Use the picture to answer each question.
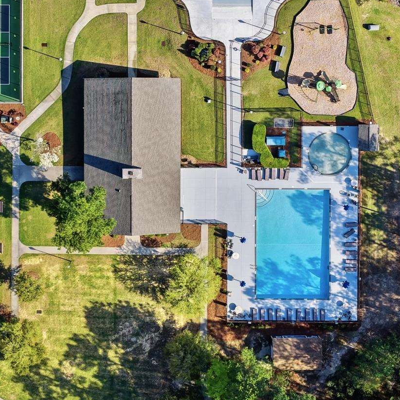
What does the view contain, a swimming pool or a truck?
swimming pool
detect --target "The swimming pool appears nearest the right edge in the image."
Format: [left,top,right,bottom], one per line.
[306,131,352,176]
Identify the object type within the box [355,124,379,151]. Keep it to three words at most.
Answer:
shed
